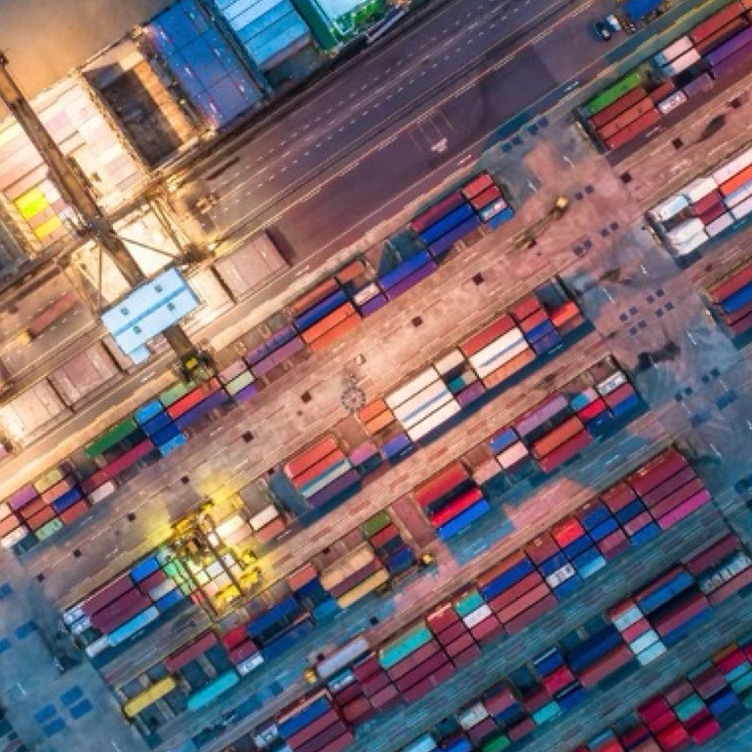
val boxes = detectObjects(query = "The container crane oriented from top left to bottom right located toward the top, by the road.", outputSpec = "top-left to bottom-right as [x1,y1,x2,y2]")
[0,64,222,398]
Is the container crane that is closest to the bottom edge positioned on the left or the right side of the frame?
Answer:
left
